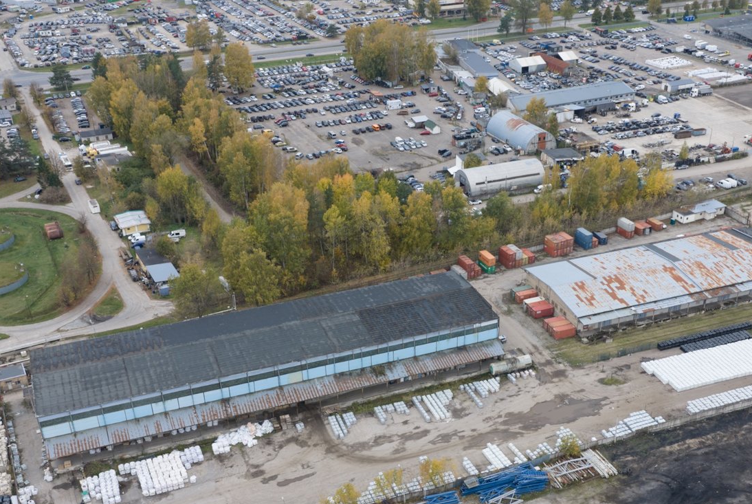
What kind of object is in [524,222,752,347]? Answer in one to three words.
warehouse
